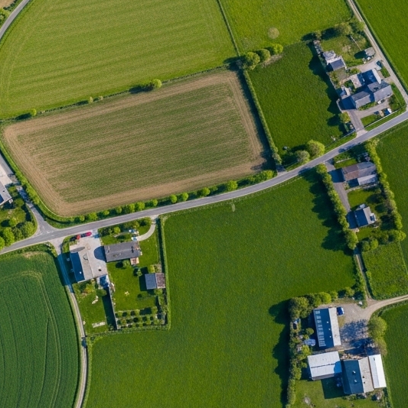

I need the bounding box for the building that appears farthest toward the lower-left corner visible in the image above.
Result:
[66,247,102,281]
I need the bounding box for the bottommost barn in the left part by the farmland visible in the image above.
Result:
[144,271,166,290]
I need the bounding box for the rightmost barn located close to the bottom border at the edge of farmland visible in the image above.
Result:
[340,351,386,394]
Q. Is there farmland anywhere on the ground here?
Yes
